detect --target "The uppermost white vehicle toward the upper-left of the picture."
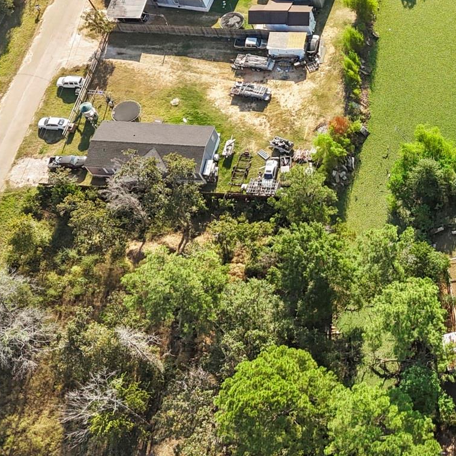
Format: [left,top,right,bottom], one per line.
[55,76,86,91]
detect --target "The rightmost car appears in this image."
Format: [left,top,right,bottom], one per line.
[306,34,322,56]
